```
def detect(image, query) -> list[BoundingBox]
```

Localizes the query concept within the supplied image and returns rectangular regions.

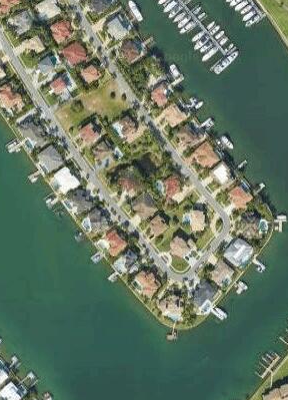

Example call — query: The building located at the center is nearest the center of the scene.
[129,191,158,220]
